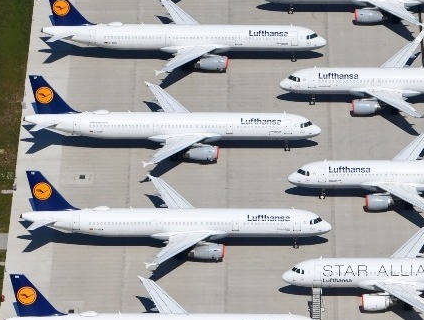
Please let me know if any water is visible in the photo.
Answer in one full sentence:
No, no water is visible.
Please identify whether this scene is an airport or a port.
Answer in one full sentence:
What you see here is an airport.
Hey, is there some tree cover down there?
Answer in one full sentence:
No, the scene doesn't show any tree cover.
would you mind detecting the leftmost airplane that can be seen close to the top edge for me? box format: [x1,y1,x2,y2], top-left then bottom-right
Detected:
[40,0,326,75]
